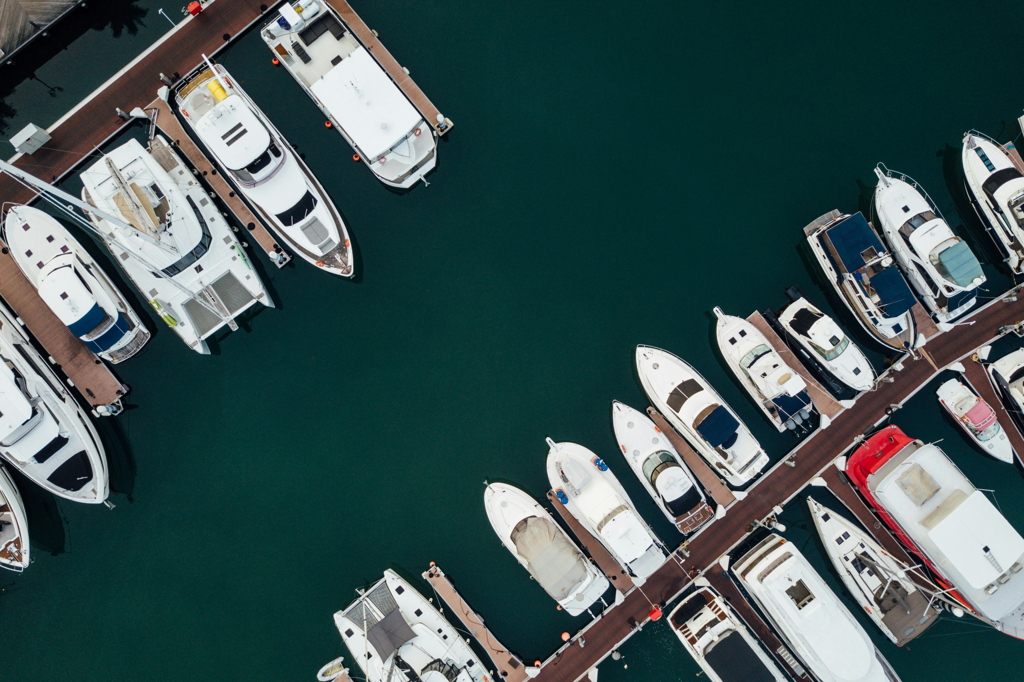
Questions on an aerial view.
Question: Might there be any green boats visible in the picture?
Yes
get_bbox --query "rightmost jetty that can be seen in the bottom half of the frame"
[944,345,1024,480]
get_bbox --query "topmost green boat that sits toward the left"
[234,242,252,270]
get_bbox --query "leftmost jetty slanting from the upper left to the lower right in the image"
[0,236,130,416]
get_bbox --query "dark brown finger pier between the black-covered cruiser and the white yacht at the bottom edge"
[693,554,812,682]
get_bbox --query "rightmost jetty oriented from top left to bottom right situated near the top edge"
[326,0,455,138]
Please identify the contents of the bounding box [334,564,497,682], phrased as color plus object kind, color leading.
white boat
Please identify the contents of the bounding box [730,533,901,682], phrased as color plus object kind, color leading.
white boat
